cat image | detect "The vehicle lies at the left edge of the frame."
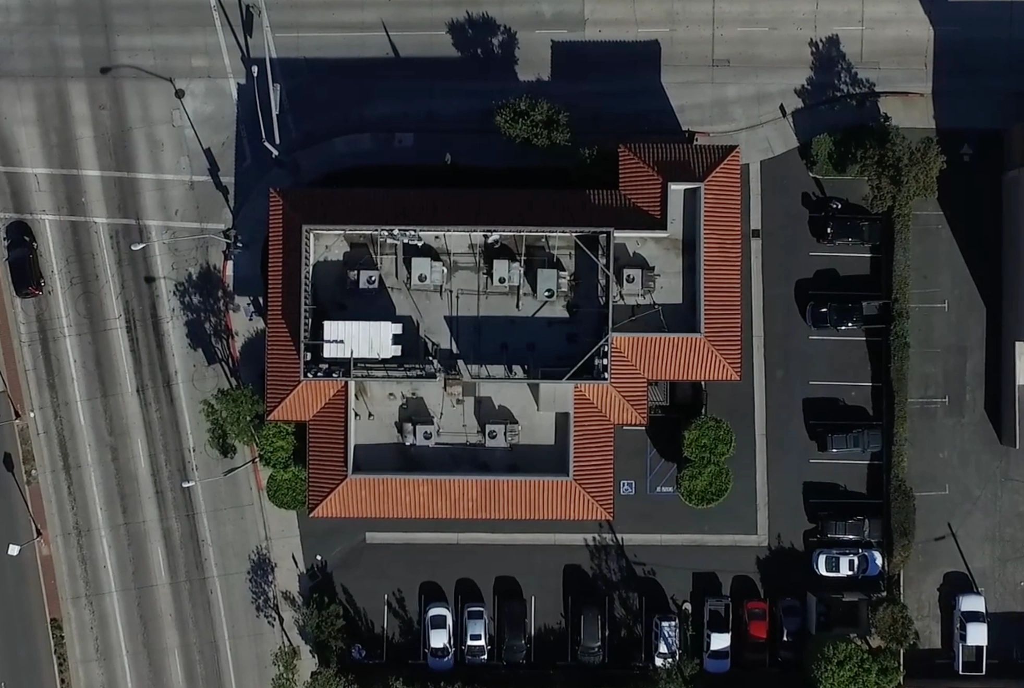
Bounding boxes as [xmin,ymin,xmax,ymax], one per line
[5,230,48,300]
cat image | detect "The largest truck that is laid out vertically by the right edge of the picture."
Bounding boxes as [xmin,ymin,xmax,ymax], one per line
[951,589,992,675]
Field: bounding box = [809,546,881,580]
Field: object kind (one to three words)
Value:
car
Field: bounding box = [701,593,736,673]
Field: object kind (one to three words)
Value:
truck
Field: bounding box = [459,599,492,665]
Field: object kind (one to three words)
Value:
car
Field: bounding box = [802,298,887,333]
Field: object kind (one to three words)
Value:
truck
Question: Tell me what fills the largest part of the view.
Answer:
paved ground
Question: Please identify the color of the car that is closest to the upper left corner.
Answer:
black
